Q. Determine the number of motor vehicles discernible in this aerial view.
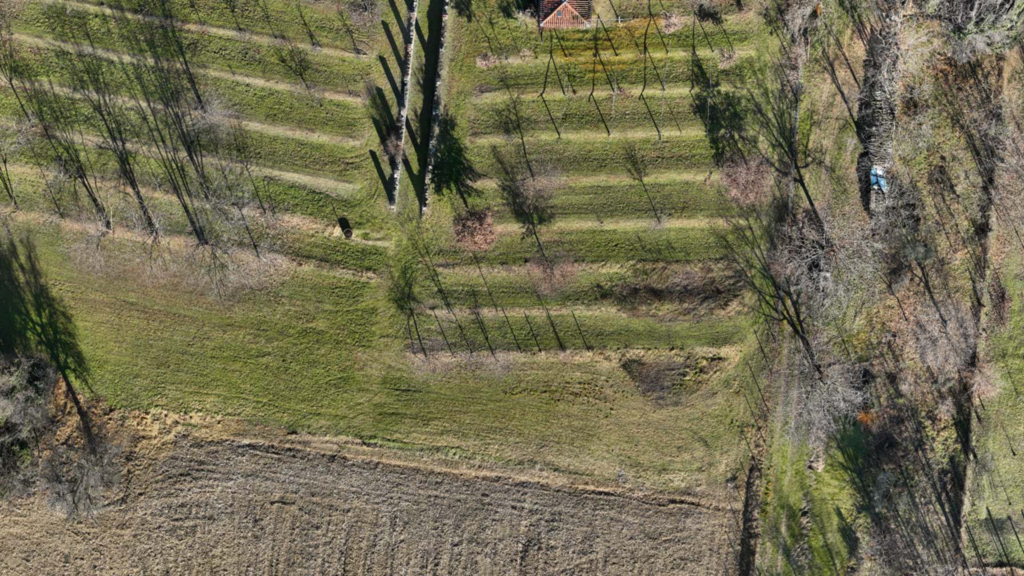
0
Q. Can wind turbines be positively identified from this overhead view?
No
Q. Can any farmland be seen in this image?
Yes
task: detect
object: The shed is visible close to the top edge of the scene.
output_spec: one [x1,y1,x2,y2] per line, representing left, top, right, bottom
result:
[539,0,592,28]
